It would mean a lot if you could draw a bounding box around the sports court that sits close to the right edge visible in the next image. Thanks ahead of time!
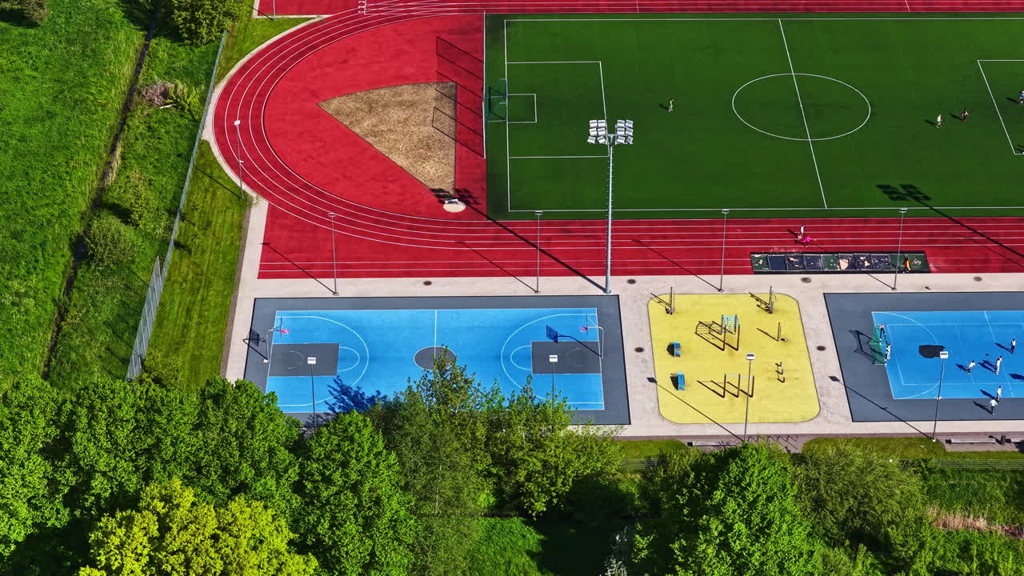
[822,291,1024,423]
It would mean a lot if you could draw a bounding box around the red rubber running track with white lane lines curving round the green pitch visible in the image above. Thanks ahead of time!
[212,0,1024,278]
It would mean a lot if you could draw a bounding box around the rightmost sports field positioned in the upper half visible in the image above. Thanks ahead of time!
[485,11,1024,220]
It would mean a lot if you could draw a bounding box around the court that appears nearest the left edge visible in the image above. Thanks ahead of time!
[242,294,633,427]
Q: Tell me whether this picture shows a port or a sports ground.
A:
sports ground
